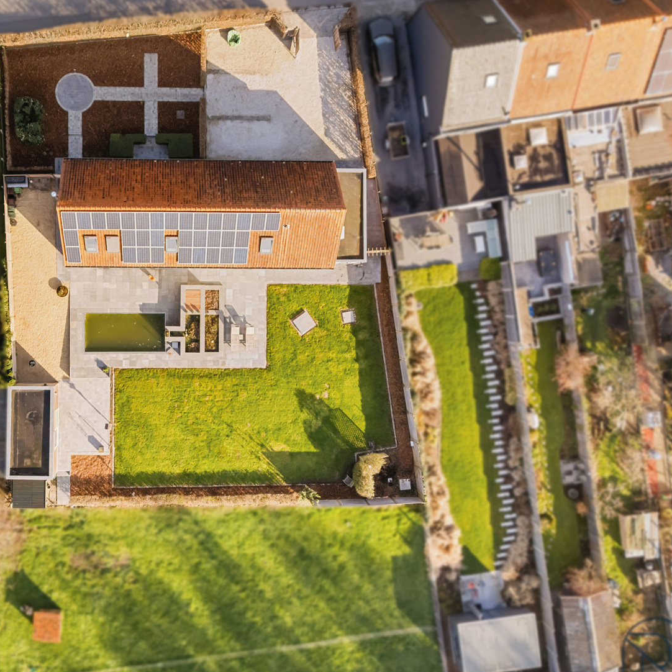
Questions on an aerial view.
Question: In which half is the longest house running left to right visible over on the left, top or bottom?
top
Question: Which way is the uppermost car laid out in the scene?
from top to bottom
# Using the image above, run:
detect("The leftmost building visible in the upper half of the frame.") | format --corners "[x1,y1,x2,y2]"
[55,157,346,270]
